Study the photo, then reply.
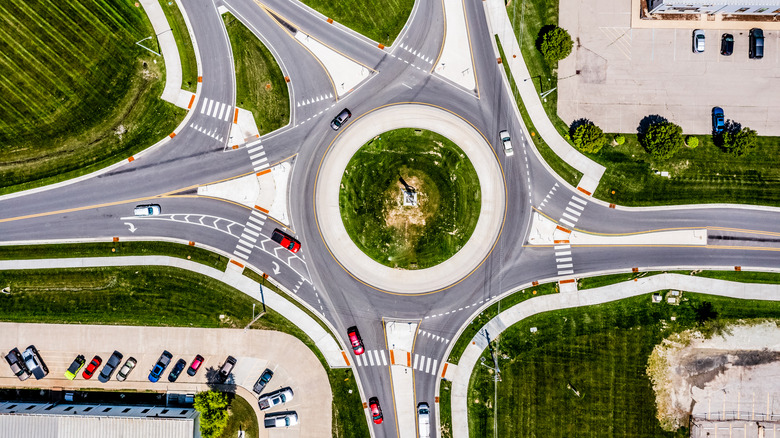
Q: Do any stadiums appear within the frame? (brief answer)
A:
No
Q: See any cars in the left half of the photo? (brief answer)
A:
Yes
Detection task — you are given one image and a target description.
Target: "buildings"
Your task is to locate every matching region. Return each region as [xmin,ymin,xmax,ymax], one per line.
[651,0,780,15]
[0,401,203,438]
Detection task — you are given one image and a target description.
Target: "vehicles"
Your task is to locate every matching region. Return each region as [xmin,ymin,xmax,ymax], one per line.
[270,229,302,253]
[83,355,104,380]
[63,354,85,379]
[149,350,173,382]
[328,107,354,131]
[258,388,293,408]
[133,204,162,217]
[747,27,765,60]
[349,326,364,354]
[168,356,187,382]
[369,396,382,423]
[710,106,726,134]
[498,129,513,158]
[24,347,49,379]
[98,350,123,382]
[117,356,138,382]
[690,29,706,55]
[217,354,238,382]
[264,411,298,426]
[187,353,206,377]
[6,349,31,380]
[719,32,734,57]
[251,366,274,395]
